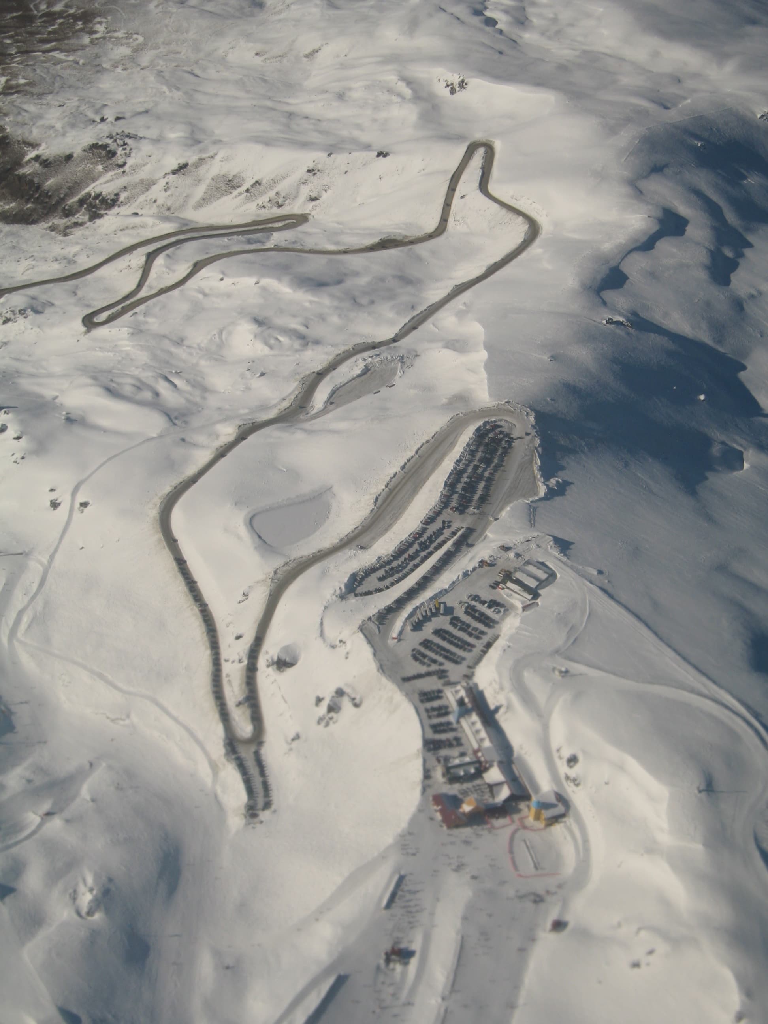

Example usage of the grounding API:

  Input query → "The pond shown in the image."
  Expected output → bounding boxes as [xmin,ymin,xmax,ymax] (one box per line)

[250,495,330,547]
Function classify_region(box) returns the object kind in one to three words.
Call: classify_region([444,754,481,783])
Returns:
building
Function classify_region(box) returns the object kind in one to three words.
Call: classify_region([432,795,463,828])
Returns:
house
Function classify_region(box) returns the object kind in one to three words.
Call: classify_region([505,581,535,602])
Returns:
shed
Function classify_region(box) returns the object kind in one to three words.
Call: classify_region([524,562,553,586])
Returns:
shed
